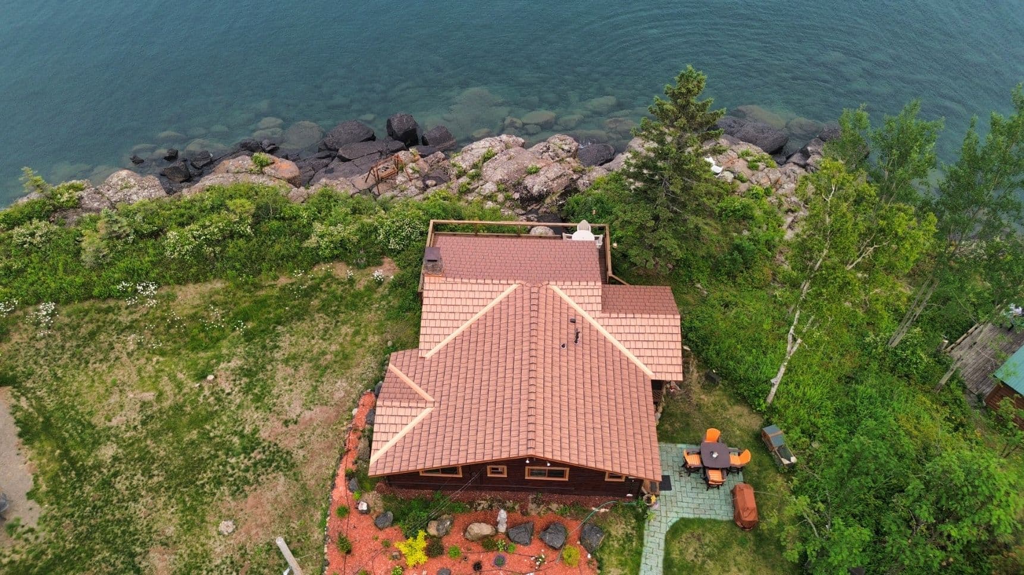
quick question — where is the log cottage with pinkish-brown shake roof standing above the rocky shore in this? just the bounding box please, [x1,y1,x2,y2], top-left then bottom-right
[367,236,682,501]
